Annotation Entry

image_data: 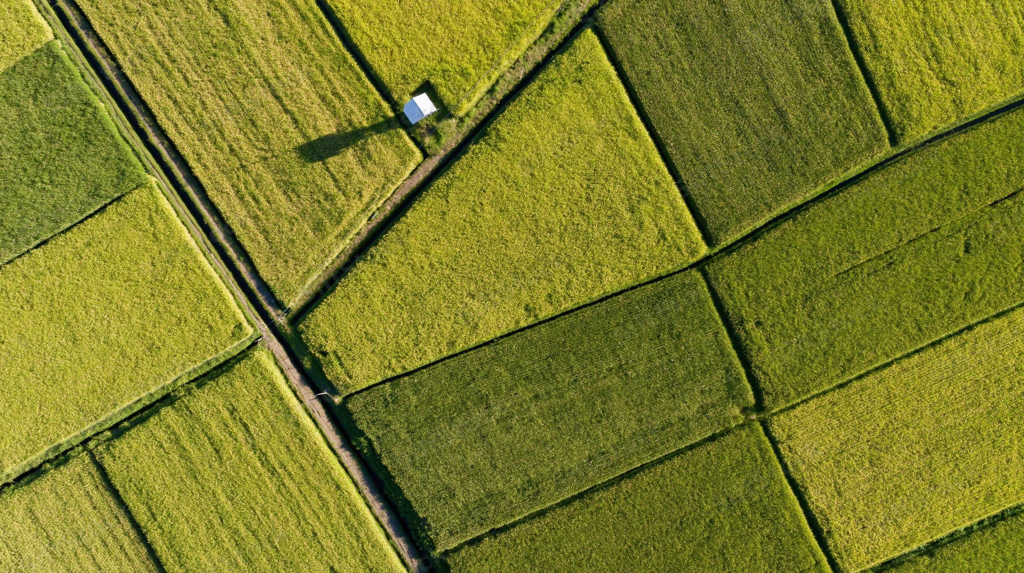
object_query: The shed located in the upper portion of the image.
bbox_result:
[404,93,439,124]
